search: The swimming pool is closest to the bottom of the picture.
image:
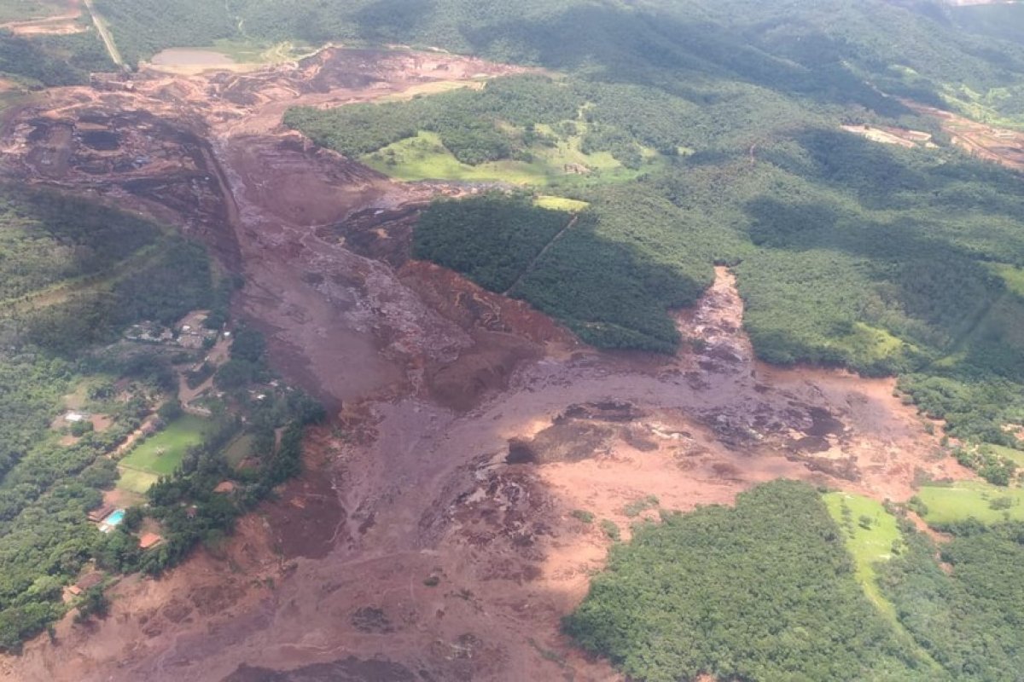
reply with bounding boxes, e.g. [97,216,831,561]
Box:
[100,509,128,526]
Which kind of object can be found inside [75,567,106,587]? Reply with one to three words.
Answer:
house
